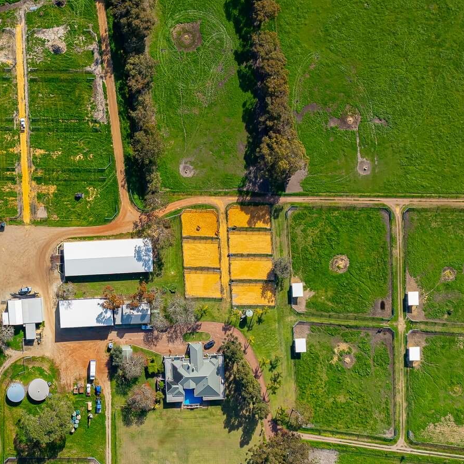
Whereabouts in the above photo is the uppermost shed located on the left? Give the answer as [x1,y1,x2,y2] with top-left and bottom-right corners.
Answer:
[63,238,152,276]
